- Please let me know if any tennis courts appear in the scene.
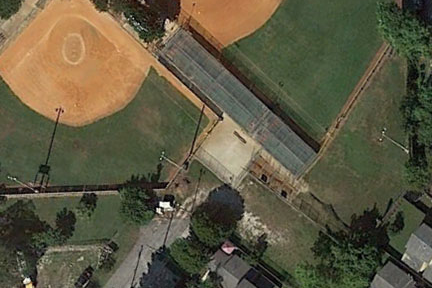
No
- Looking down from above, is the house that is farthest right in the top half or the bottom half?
bottom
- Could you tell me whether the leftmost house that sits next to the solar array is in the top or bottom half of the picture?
bottom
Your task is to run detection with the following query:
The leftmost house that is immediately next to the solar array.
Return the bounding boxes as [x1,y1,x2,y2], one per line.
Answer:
[217,254,252,288]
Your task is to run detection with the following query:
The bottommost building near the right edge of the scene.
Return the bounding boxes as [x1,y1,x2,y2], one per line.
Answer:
[369,259,424,288]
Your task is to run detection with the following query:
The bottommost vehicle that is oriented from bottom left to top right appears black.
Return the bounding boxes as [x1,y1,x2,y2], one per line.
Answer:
[75,268,90,285]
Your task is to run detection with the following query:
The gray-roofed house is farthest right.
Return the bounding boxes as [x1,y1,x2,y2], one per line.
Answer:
[400,221,432,284]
